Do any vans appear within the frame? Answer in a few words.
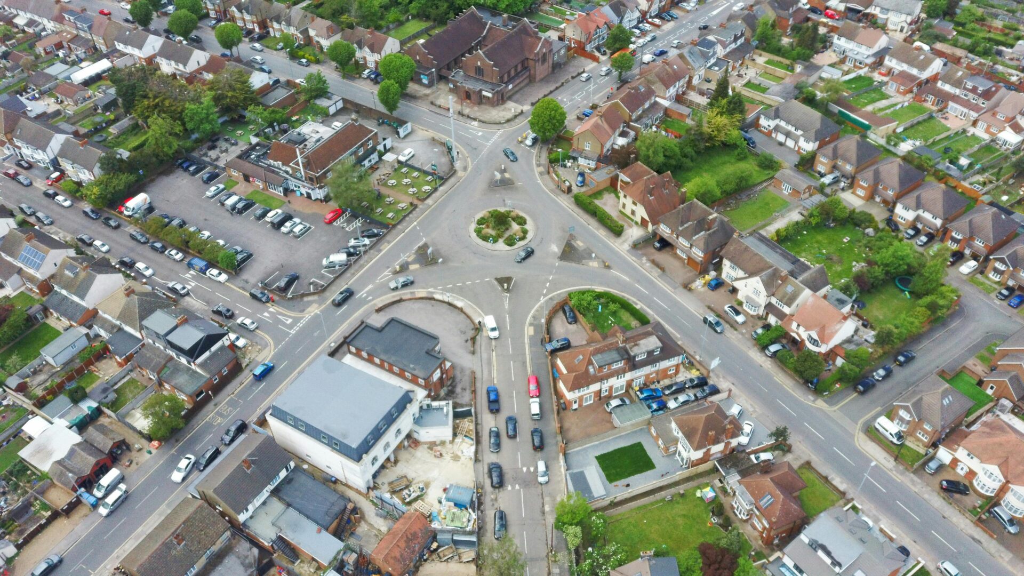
Yes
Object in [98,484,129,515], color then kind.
white van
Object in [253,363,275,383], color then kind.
blue car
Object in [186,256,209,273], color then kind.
blue vehicle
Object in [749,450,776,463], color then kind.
white vehicle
